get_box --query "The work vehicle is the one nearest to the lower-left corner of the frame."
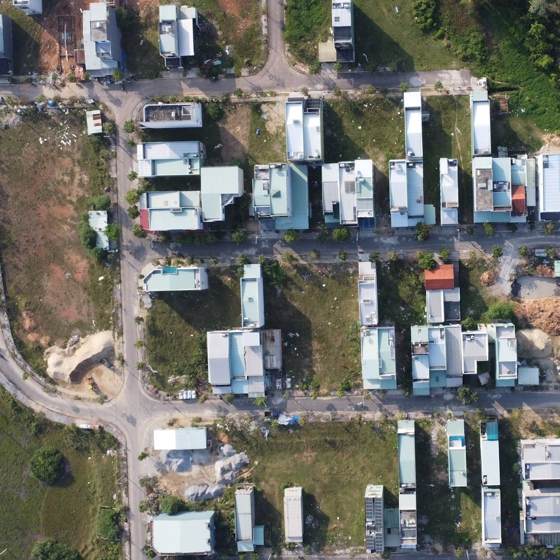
[83,373,97,393]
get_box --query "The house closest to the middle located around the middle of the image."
[240,264,266,327]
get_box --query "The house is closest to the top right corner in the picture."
[469,91,506,158]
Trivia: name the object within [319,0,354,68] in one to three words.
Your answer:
house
